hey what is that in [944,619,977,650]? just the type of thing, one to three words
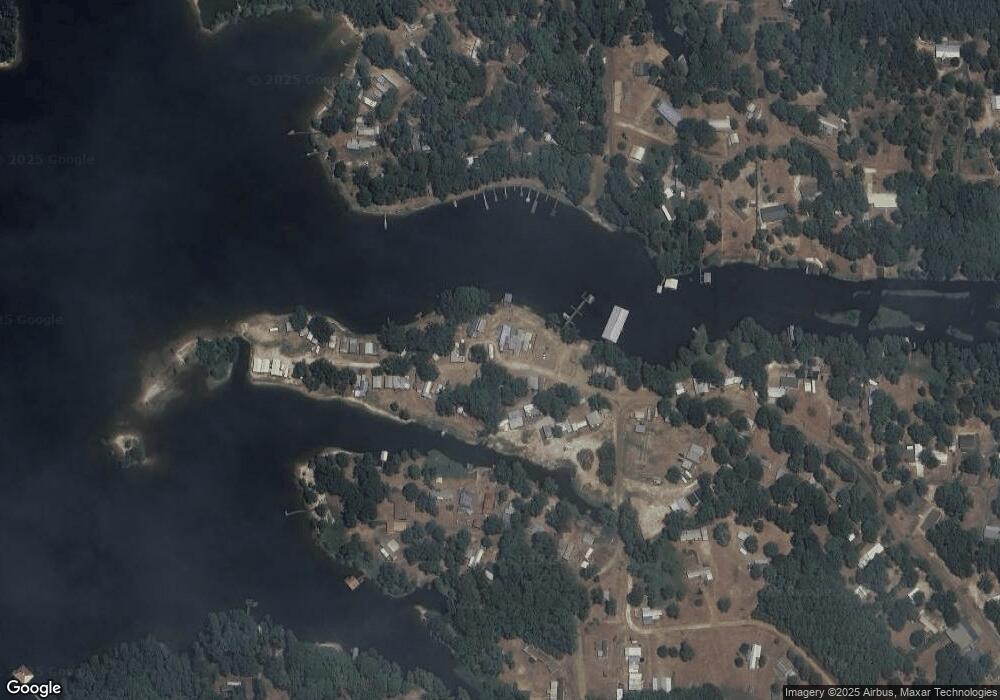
building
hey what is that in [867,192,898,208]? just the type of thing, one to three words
house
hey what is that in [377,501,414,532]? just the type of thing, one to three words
house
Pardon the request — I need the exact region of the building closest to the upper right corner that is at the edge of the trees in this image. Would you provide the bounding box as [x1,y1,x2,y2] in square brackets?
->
[936,44,960,62]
